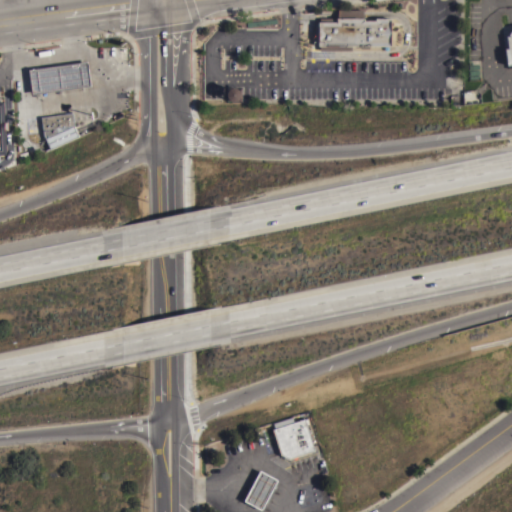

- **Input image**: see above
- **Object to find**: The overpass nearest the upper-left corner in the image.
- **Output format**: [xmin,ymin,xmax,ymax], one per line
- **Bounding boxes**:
[102,202,237,266]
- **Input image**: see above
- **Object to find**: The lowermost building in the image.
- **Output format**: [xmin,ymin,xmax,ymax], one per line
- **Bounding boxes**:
[274,413,316,461]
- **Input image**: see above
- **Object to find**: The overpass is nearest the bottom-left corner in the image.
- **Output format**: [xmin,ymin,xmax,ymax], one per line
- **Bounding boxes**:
[104,306,238,368]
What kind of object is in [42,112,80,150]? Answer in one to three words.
building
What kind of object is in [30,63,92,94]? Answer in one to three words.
building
